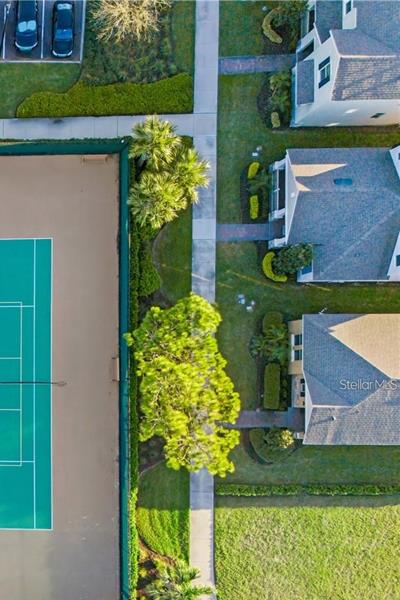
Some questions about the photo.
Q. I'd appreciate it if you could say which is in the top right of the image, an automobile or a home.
home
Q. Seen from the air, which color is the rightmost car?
blue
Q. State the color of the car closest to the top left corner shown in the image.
blue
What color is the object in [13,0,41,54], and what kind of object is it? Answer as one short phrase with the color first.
blue car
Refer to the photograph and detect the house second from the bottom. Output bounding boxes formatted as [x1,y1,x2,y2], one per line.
[270,143,400,282]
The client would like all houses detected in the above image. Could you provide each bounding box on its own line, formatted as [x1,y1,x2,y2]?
[270,143,400,282]
[291,0,400,125]
[288,310,400,445]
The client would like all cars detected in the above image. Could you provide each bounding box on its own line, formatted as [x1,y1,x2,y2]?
[13,0,41,54]
[49,0,78,59]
